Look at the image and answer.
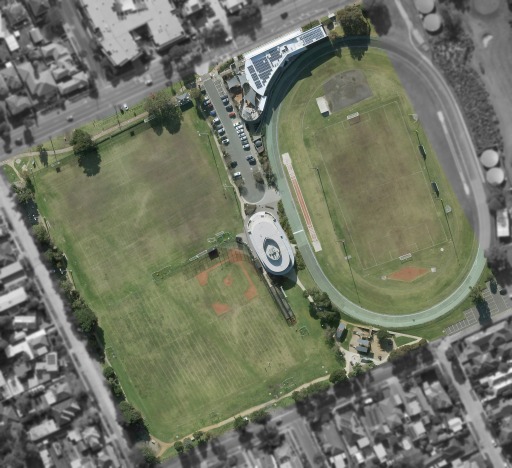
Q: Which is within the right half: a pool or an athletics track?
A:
athletics track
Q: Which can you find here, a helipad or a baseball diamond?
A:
baseball diamond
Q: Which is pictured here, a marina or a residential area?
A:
residential area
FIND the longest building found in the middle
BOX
[244,212,294,274]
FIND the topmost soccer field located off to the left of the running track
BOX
[33,114,241,308]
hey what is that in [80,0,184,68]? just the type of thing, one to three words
building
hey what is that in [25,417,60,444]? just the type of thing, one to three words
house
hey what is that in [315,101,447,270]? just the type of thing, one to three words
soccer field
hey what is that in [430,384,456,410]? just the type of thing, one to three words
house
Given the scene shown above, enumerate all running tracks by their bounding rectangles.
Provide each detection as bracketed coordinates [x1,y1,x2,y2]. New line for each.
[262,34,494,329]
